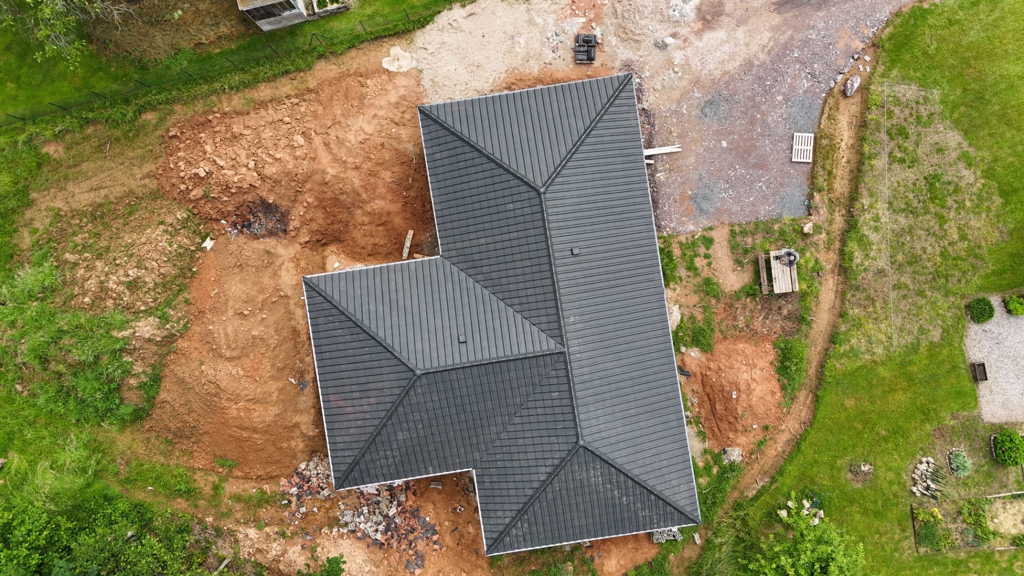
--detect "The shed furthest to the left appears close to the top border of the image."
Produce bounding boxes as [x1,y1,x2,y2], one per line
[236,0,308,31]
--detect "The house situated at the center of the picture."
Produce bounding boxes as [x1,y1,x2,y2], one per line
[301,70,703,559]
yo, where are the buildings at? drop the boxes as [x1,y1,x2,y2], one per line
[236,0,308,31]
[301,70,703,559]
